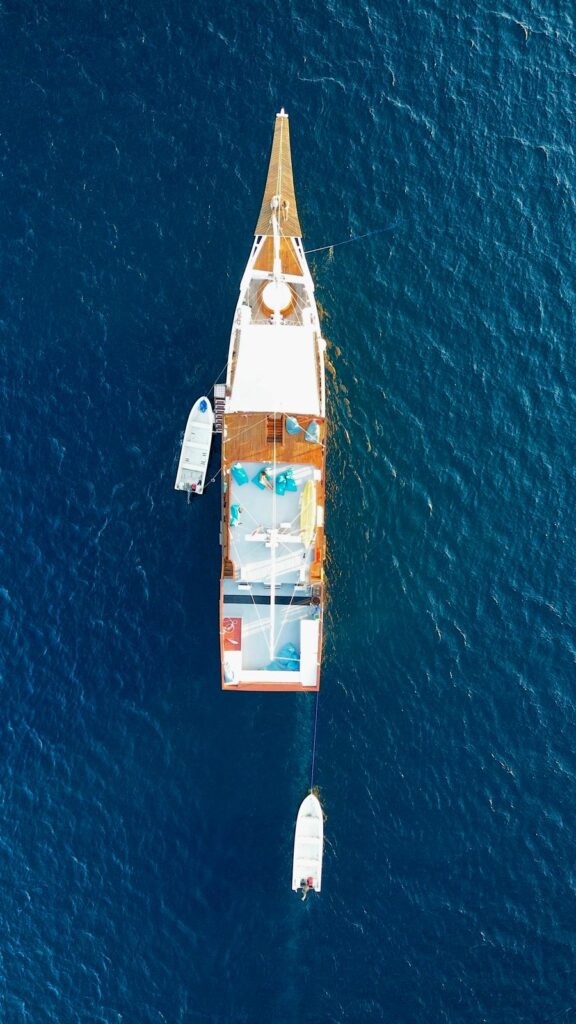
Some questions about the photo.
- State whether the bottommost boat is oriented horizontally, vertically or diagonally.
vertically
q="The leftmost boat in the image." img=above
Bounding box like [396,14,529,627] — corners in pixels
[175,396,211,501]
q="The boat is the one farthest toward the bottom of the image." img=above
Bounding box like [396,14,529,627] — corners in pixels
[292,794,323,899]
